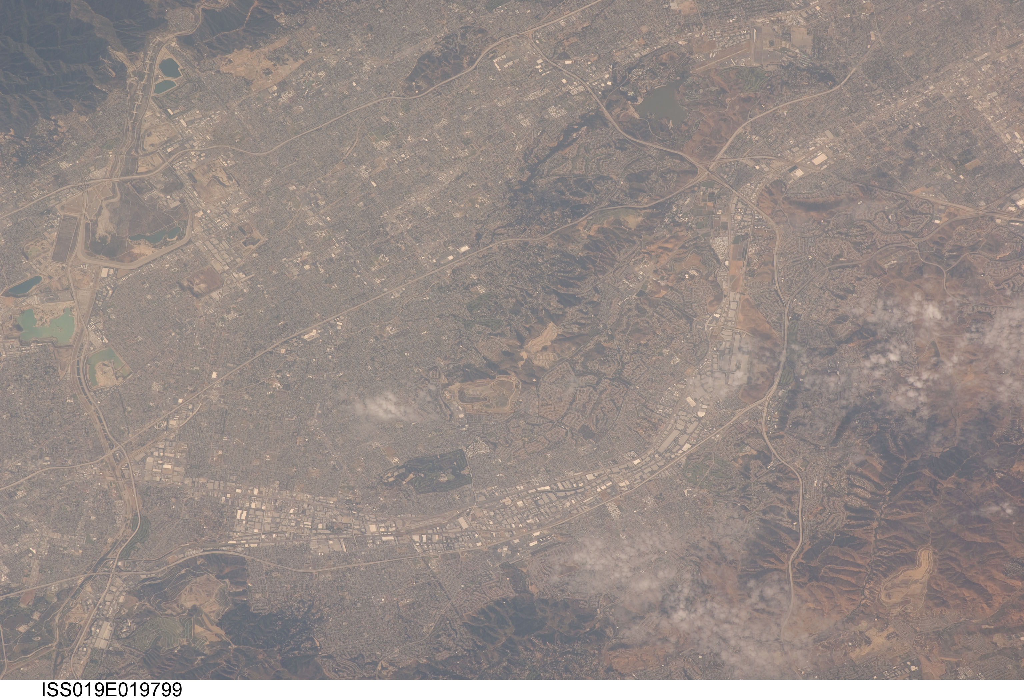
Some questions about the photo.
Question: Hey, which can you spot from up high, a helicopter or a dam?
dam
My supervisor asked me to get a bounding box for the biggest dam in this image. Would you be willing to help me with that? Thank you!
[78,201,193,268]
